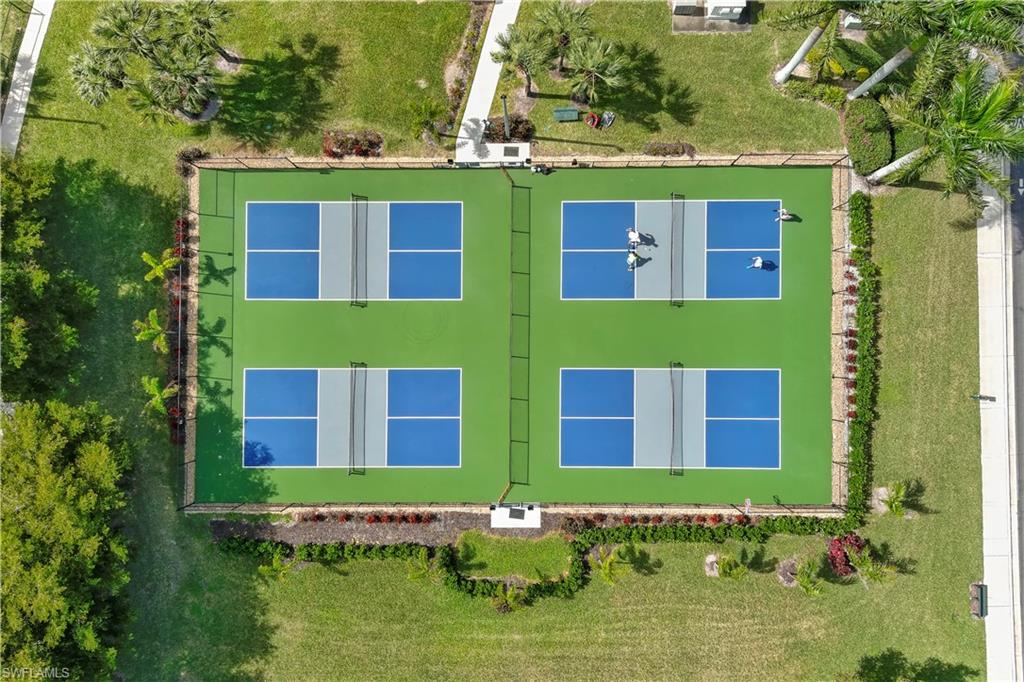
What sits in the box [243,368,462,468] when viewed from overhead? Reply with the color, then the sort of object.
blue sports court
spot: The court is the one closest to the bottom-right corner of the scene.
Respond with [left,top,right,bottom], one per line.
[560,368,781,469]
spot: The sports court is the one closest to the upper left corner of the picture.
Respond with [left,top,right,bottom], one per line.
[246,201,463,300]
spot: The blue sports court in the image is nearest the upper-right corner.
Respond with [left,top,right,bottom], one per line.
[561,200,781,300]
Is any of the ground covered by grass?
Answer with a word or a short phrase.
Yes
